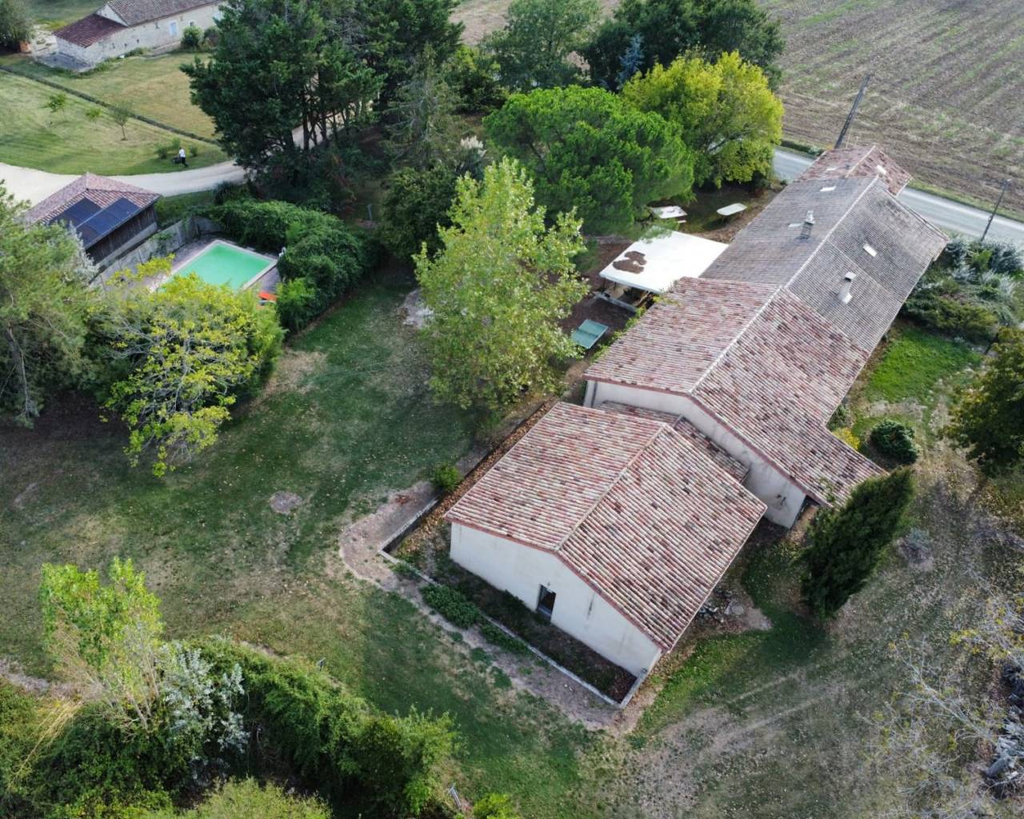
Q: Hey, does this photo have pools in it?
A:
Yes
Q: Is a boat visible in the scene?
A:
No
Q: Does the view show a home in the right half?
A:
Yes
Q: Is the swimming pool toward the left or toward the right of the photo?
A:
left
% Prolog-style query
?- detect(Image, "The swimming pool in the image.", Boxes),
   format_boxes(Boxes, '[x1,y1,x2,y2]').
[85,233,301,367]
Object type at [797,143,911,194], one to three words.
house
